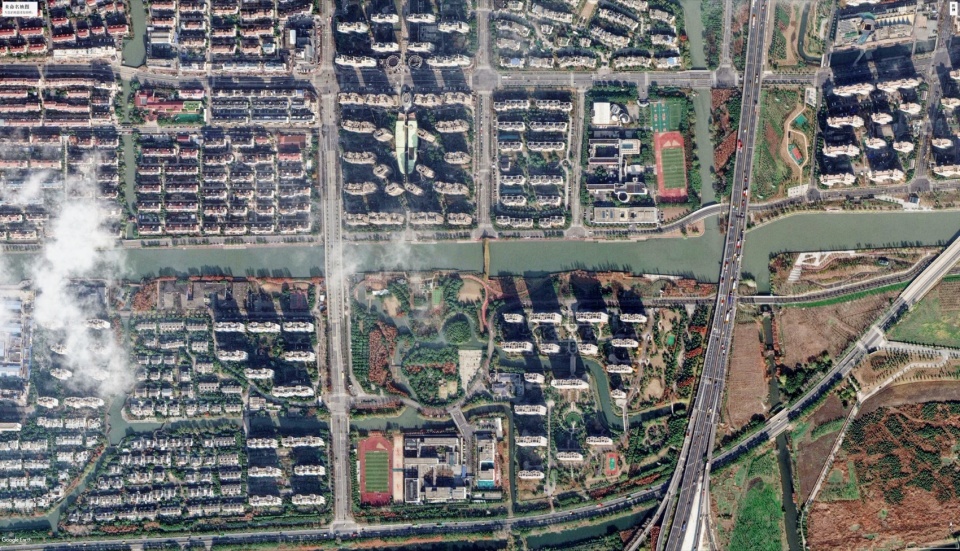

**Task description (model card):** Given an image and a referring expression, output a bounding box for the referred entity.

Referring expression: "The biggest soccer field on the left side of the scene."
[366,452,389,492]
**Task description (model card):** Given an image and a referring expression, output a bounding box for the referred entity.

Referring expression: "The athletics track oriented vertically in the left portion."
[359,430,393,503]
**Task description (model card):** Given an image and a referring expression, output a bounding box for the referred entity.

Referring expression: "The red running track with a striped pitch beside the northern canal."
[654,131,687,201]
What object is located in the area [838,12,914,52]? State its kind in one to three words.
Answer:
building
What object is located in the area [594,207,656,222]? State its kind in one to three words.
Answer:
building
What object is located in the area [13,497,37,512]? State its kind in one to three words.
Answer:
house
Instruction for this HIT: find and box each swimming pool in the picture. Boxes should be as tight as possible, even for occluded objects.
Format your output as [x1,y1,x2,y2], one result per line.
[501,187,523,194]
[499,134,519,140]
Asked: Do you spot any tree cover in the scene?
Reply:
Yes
